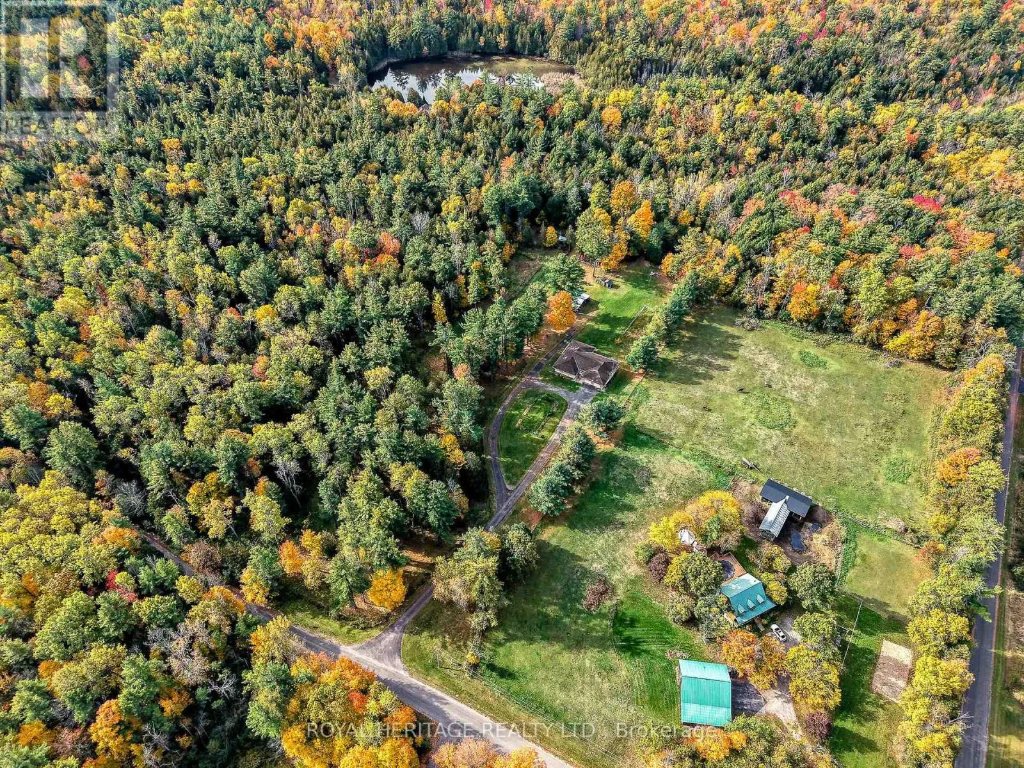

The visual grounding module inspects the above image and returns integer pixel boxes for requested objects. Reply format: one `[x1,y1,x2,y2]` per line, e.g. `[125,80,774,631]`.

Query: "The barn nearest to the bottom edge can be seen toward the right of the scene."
[678,659,732,729]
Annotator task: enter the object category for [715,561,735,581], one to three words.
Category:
swimming pool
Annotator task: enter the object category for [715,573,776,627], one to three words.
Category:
house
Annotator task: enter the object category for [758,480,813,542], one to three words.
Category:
building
